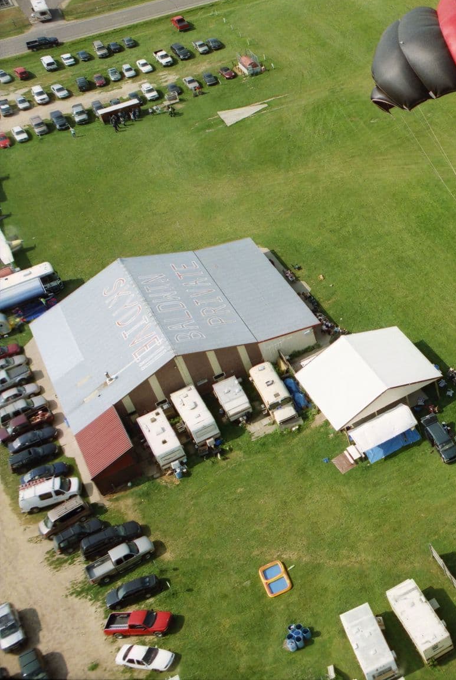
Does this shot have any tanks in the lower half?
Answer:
No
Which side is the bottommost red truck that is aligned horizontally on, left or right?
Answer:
left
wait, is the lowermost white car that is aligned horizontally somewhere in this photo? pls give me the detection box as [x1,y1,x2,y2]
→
[111,643,181,675]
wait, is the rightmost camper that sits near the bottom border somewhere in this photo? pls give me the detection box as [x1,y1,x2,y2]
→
[387,580,453,666]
